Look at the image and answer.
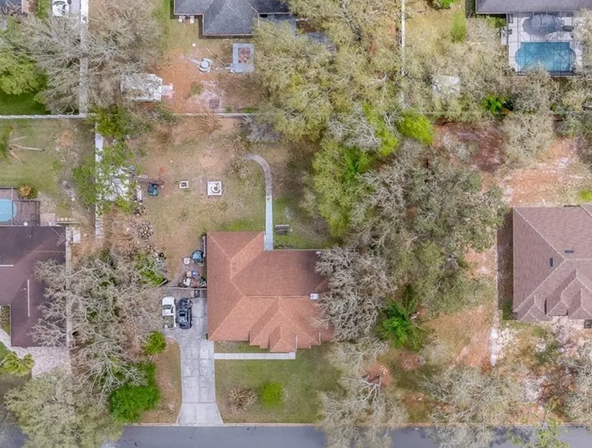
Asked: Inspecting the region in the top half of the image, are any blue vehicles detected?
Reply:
No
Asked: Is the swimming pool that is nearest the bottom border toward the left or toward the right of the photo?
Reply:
left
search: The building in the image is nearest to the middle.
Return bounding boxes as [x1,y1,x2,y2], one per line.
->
[206,230,335,352]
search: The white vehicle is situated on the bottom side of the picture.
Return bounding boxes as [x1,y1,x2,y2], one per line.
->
[161,295,179,328]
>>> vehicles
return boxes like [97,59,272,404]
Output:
[161,295,179,328]
[52,0,73,25]
[176,296,195,328]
